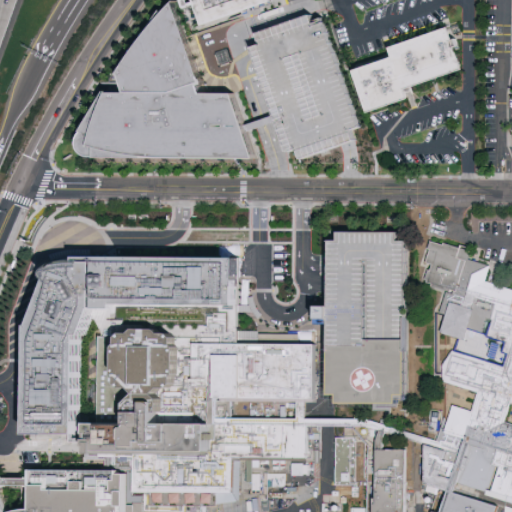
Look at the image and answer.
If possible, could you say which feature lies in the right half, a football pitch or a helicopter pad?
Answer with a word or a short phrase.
helicopter pad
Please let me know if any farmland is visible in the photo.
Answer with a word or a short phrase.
No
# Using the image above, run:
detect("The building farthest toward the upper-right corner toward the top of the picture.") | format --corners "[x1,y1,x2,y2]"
[350,27,462,112]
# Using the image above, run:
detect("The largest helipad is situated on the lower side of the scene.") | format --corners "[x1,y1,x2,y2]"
[324,339,403,404]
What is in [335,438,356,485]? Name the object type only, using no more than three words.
building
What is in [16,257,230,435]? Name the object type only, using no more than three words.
building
